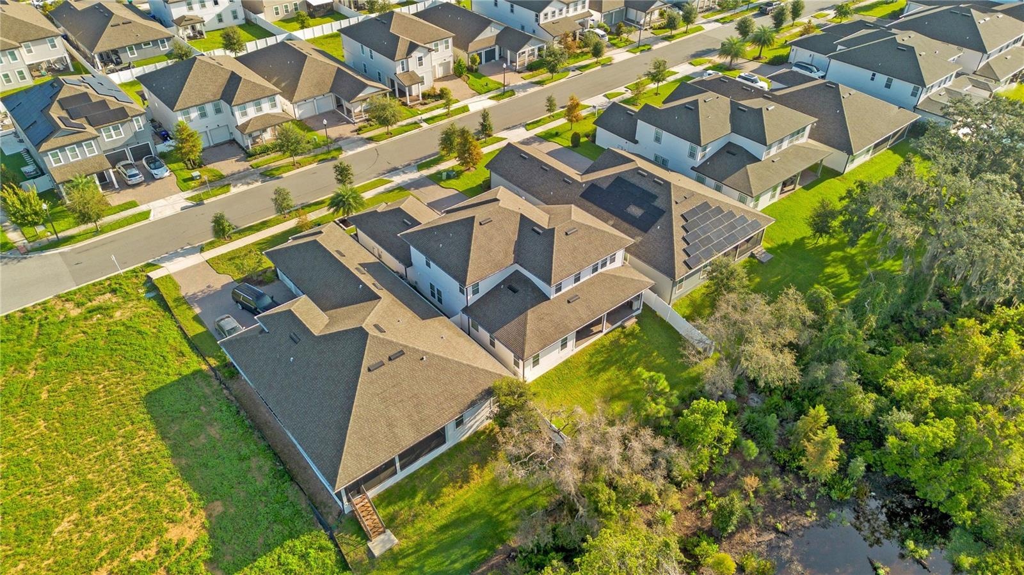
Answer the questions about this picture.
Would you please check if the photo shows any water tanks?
No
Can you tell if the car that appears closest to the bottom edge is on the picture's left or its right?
left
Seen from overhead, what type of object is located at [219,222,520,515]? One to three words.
house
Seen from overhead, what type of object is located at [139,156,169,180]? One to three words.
car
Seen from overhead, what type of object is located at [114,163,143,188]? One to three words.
car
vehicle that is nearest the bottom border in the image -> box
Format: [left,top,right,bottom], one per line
[214,311,247,339]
